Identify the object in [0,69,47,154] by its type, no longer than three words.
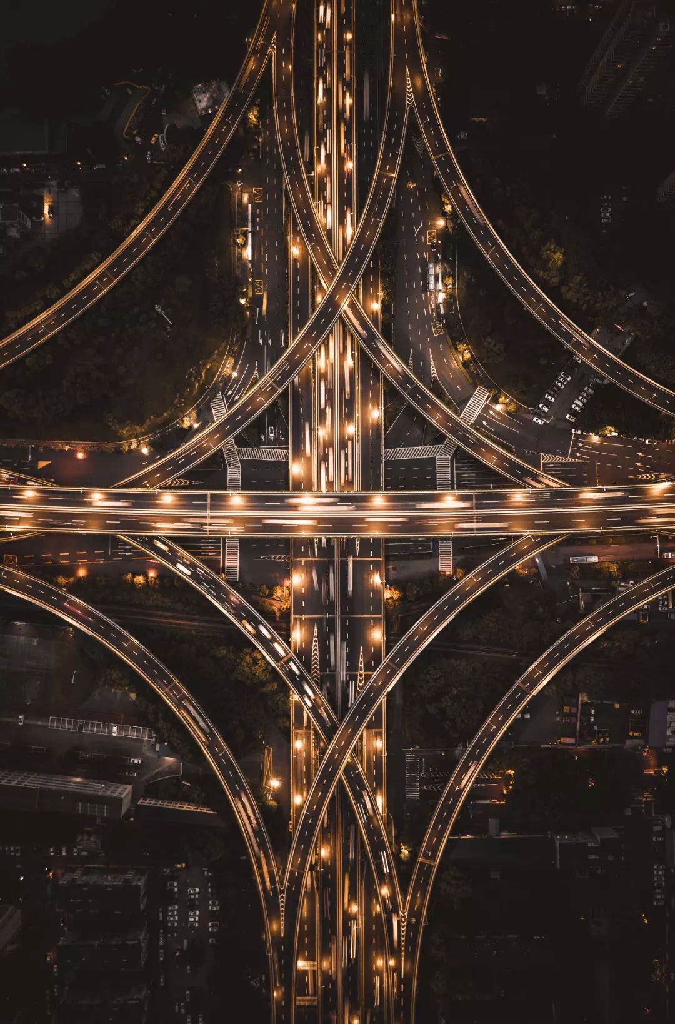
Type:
building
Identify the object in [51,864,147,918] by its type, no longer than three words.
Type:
building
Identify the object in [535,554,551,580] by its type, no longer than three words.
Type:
vehicle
